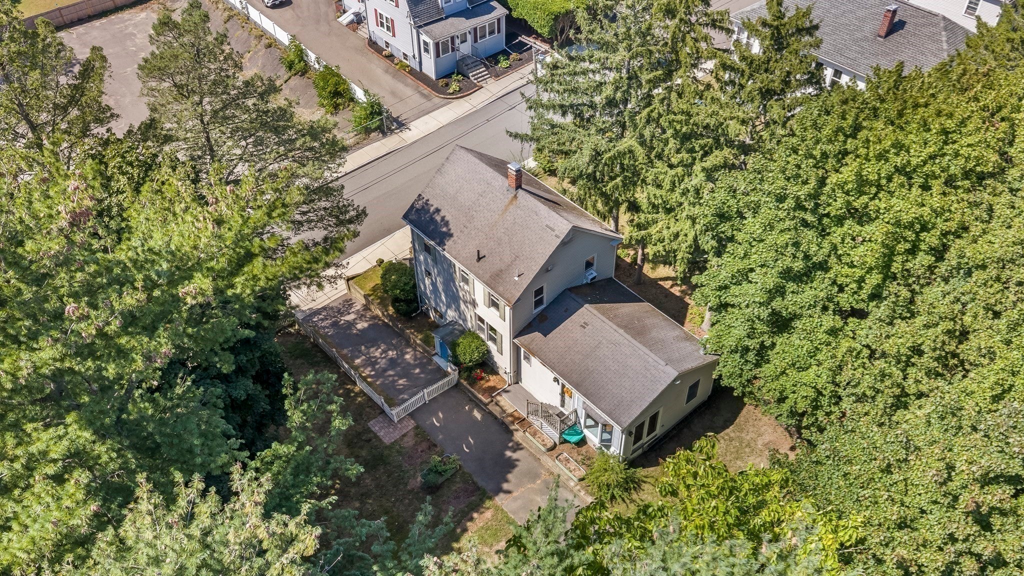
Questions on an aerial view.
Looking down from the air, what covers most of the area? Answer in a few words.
trees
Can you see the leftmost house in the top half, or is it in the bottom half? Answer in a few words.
top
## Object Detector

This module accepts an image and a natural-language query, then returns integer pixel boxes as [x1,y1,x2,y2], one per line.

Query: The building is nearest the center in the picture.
[401,146,717,466]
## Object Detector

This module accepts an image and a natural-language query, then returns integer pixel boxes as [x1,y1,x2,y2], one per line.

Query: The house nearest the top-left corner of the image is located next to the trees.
[335,0,513,78]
